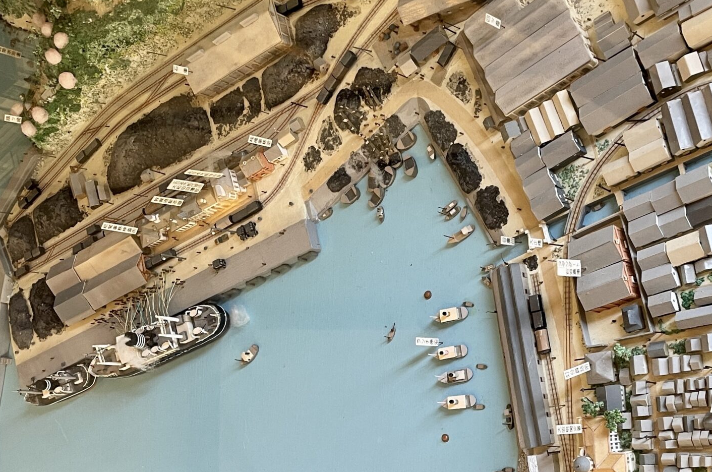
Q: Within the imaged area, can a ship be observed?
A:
Yes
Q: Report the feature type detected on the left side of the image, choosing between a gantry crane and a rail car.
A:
rail car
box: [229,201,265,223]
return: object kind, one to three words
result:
rail car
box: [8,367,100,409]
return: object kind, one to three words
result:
ship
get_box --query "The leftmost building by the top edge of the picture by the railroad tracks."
[184,0,295,99]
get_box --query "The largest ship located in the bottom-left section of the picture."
[76,301,235,387]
